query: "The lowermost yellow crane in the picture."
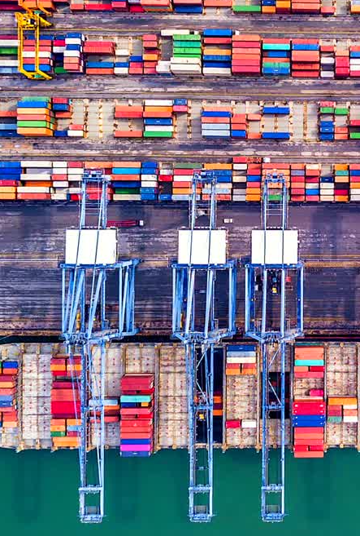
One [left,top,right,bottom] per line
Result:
[16,12,57,84]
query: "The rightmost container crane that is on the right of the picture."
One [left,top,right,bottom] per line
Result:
[242,162,314,524]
